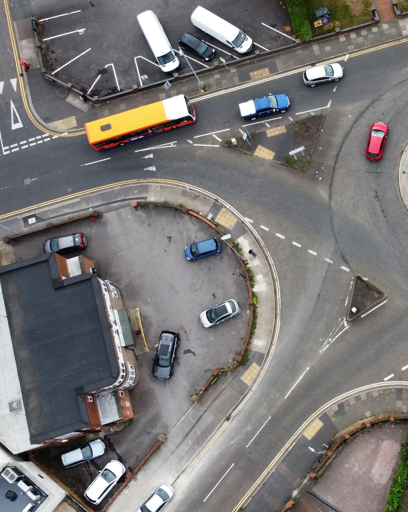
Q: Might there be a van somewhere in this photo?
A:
Yes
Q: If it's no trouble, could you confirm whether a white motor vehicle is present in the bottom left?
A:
Yes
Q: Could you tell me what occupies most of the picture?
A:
paved ground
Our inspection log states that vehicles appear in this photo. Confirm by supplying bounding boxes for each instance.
[183,238,225,263]
[83,460,126,505]
[366,122,388,162]
[137,10,179,74]
[200,302,242,329]
[192,6,253,55]
[151,330,181,380]
[239,94,291,122]
[85,93,201,152]
[303,61,344,84]
[178,29,216,64]
[57,437,110,472]
[44,234,90,254]
[136,482,176,512]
